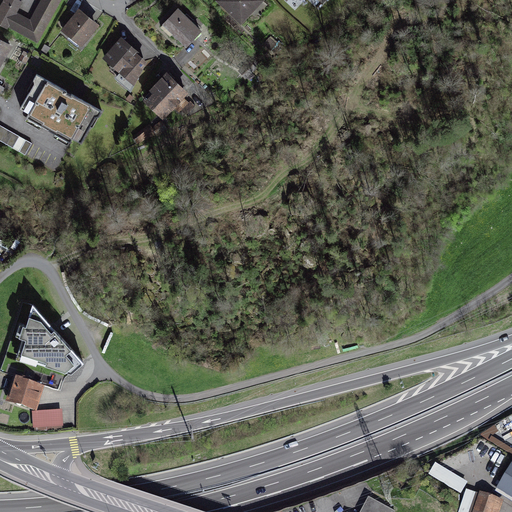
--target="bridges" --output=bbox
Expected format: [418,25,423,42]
[0,440,207,512]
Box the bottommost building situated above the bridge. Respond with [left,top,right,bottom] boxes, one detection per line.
[32,408,63,429]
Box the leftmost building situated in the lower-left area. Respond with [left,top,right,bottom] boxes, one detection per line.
[6,374,44,412]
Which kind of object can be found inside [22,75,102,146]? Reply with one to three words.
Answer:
building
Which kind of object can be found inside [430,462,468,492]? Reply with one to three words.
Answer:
building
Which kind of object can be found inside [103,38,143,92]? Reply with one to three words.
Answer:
house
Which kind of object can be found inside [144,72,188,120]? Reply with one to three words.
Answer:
house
